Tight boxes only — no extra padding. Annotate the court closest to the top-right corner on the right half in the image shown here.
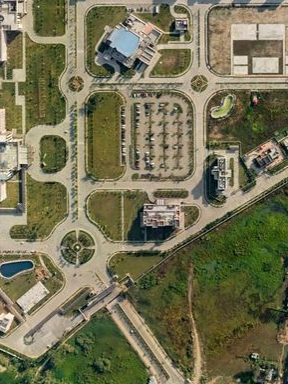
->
[258,24,285,40]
